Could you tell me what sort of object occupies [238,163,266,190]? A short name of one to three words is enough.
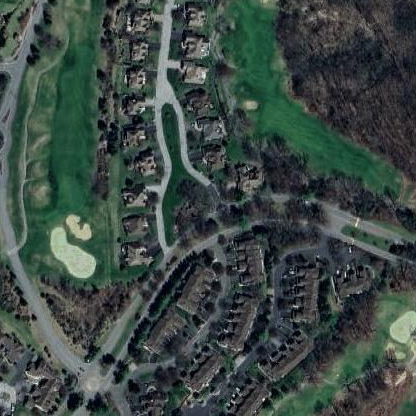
house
